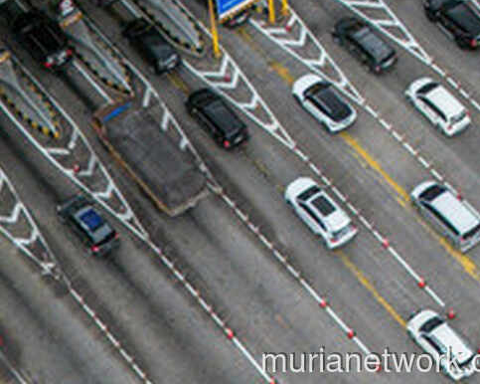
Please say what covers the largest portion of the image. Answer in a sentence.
For the most part, this view shows paved ground.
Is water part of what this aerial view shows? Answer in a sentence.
No, water can't be seen anywhere here.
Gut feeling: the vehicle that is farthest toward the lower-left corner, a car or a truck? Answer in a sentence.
The vehicle that is farthest toward the lower-left corner can be classified as a car.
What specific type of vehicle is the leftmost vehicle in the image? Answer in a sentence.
It turns out the leftmost vehicle is a car.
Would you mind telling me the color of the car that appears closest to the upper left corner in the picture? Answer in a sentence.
The car that appears closest to the upper left corner looks black in the image.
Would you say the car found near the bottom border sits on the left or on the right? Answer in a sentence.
It is on the right.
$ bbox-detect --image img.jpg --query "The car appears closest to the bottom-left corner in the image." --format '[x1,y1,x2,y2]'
[61,198,119,259]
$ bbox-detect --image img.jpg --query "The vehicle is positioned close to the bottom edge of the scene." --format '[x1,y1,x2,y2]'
[407,309,475,378]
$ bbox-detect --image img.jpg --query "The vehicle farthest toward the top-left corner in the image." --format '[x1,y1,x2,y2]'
[14,13,71,70]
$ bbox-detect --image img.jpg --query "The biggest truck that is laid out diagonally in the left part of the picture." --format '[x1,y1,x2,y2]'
[86,97,209,225]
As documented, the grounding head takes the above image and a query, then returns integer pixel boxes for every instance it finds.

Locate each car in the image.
[333,16,397,75]
[14,13,71,70]
[407,309,475,378]
[122,20,182,76]
[426,0,480,49]
[289,184,350,244]
[294,76,352,132]
[412,184,480,250]
[61,198,119,259]
[407,83,467,139]
[220,6,257,37]
[188,91,248,149]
